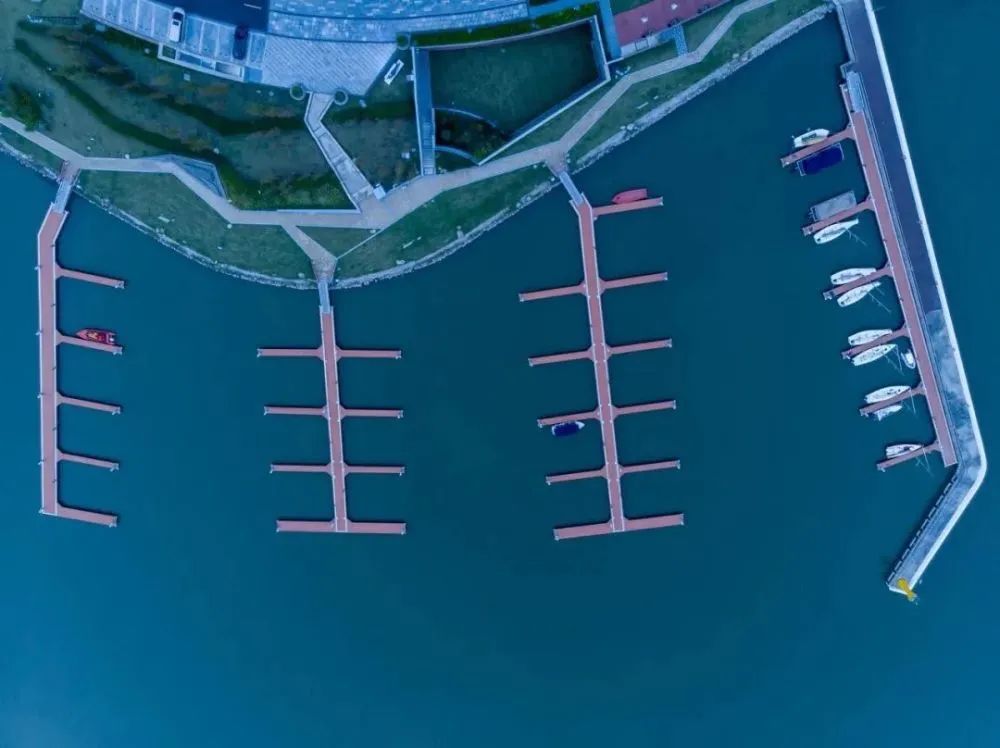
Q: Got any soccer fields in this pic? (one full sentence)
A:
No, no soccer field can be seen from above.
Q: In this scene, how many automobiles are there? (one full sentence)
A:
Altogether the scene contains 2 automobiles.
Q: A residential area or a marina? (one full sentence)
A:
What you see here is a marina.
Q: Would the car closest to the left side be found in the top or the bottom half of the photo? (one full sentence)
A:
It is in the top half that the car closest to the left side appears.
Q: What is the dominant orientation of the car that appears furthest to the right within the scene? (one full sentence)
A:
In this picture, the car that appears furthest to the right is oriented up and down.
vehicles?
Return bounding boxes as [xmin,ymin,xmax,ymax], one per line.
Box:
[230,24,250,62]
[162,6,186,44]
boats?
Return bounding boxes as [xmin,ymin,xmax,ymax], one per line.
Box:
[874,405,910,426]
[550,422,585,434]
[792,129,829,148]
[885,443,931,471]
[807,190,856,222]
[812,221,862,246]
[793,143,845,177]
[836,283,889,309]
[847,329,897,353]
[829,266,881,288]
[864,386,915,413]
[899,346,915,368]
[75,329,118,345]
[852,345,903,373]
[611,187,647,203]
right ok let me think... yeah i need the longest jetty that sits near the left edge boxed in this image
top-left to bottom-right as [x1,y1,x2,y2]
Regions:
[34,203,126,529]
